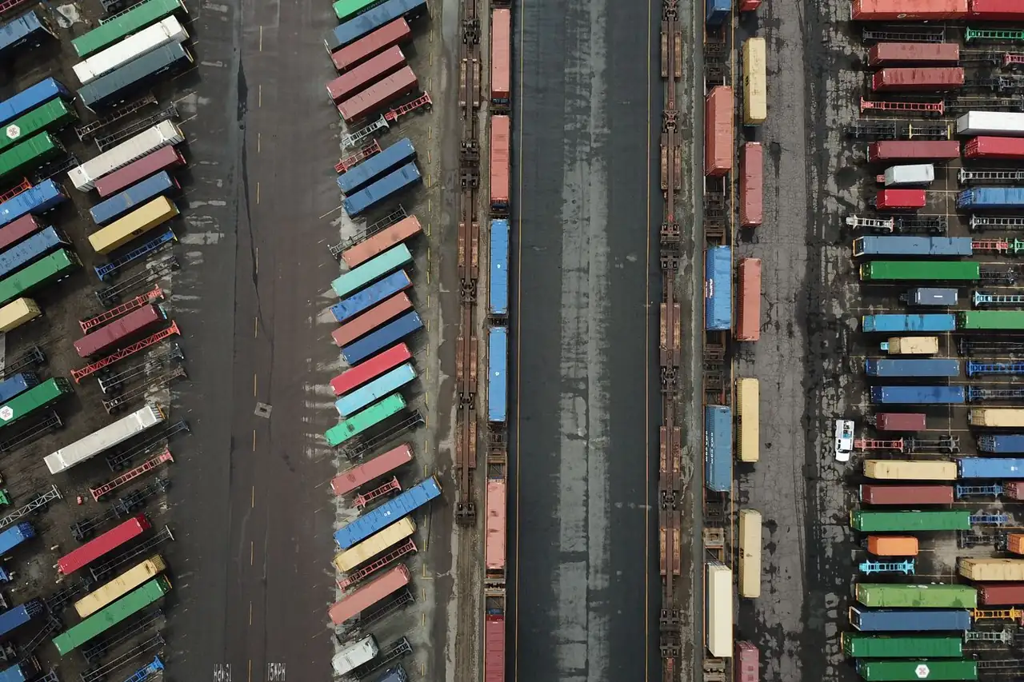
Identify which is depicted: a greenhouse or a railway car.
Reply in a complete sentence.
Looking from above, you can make out a railway car.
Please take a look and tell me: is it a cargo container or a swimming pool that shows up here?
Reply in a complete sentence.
This aerial view contains a cargo container.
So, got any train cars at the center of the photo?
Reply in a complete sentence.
Yes, a train car is visible at the center of the photo.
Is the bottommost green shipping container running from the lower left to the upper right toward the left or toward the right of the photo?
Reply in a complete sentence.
The bottommost green shipping container running from the lower left to the upper right appears in the left half of the scene.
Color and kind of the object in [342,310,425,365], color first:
blue shipping container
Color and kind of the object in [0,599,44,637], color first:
blue shipping container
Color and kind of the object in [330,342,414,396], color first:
red shipping container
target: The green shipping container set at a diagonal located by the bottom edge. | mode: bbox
[53,573,173,656]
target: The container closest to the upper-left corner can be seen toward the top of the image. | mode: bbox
[0,11,52,62]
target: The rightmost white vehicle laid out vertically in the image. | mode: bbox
[834,420,853,460]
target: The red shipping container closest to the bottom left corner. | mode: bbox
[58,514,151,575]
